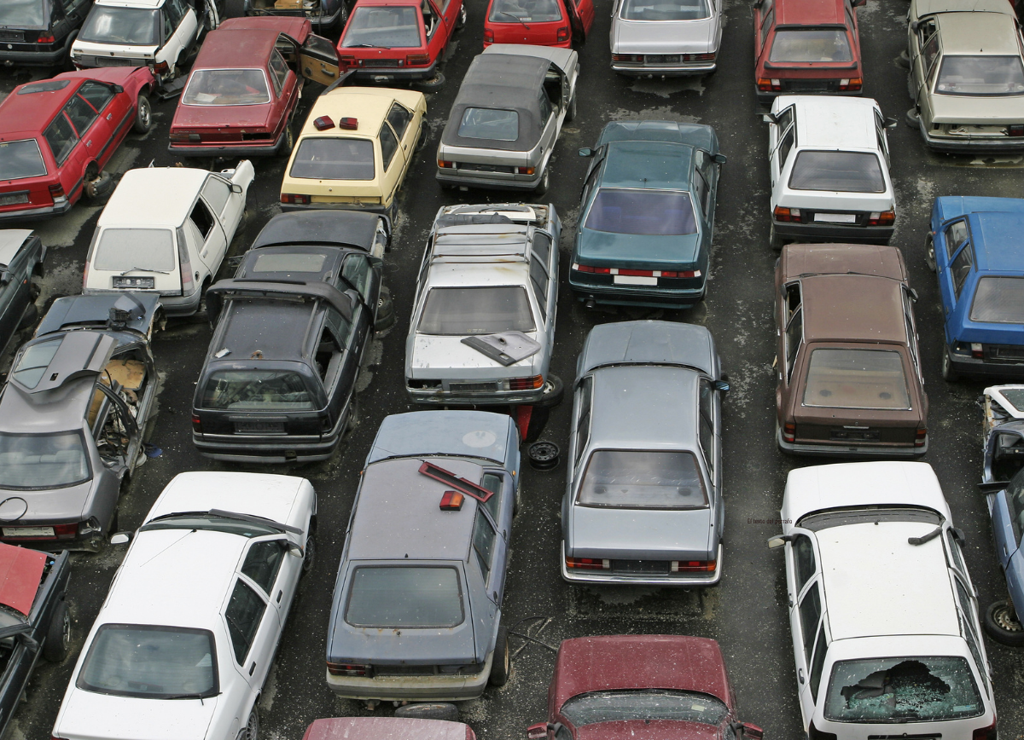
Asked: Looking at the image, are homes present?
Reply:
No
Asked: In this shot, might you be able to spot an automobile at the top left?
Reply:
Yes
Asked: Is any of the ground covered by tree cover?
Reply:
No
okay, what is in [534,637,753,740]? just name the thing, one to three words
car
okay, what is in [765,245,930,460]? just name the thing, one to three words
car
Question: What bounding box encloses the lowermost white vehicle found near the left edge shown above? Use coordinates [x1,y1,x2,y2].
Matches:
[50,470,309,740]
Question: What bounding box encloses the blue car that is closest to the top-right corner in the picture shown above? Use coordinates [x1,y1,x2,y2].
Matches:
[934,193,1024,385]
